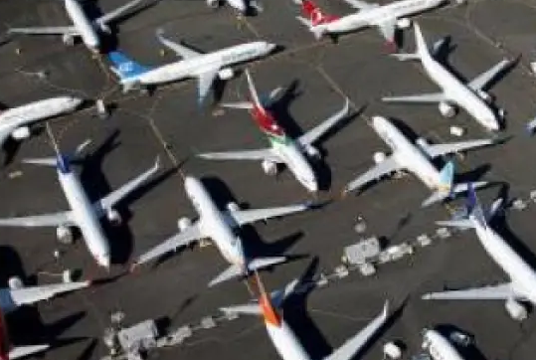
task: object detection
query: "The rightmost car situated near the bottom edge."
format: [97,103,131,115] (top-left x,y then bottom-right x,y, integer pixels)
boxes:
[450,327,472,343]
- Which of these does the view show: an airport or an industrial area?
airport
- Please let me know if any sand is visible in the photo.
No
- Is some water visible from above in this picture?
No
